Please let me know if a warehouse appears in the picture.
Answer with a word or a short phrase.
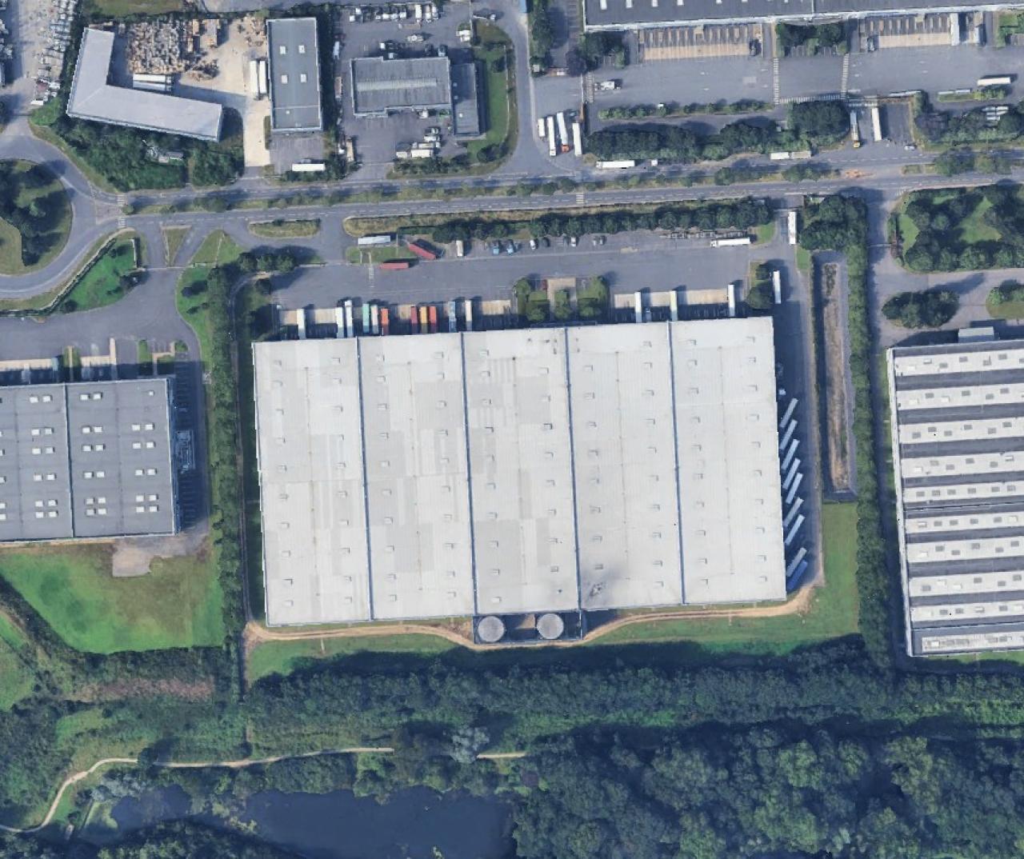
Yes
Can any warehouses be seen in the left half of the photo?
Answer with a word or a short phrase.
Yes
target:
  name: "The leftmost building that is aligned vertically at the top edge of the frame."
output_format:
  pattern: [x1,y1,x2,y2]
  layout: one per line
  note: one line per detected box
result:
[266,18,325,136]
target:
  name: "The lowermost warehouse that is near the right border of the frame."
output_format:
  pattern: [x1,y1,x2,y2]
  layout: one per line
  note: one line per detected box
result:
[883,327,1024,656]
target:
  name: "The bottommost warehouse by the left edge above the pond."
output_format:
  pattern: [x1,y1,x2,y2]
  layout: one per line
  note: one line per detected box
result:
[0,378,181,543]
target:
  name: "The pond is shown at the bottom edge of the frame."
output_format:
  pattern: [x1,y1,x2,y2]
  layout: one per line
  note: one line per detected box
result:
[96,786,517,859]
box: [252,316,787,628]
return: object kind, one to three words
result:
warehouse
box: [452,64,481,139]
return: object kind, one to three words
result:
building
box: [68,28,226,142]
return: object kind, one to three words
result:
building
